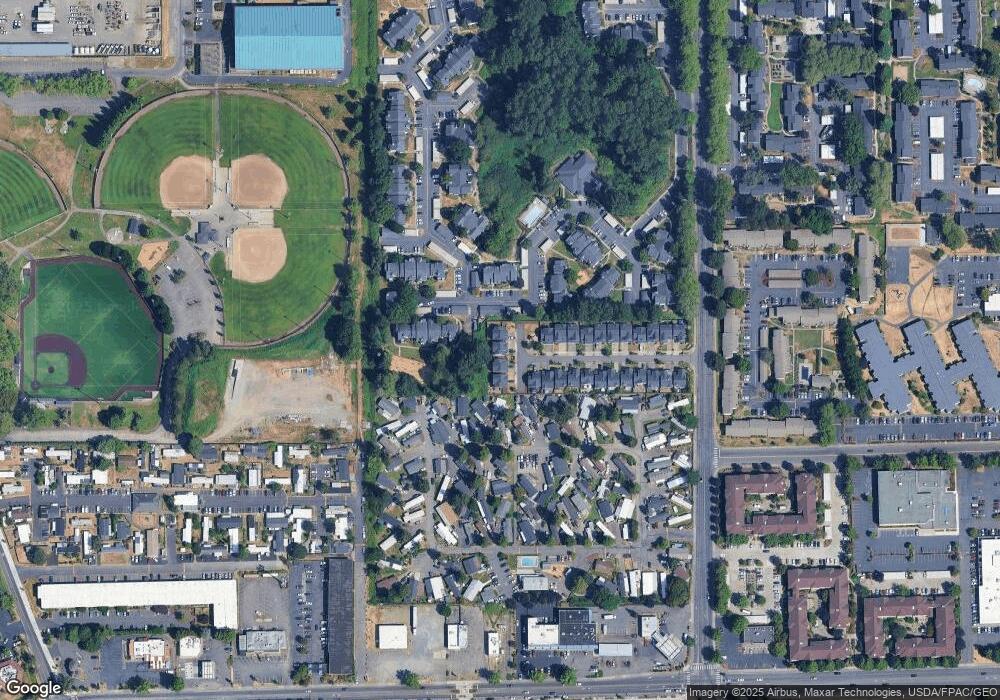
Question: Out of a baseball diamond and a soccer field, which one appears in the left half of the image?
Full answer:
Looking in the left half of the image, you will find a baseball diamond.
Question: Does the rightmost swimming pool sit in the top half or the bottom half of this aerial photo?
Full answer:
The rightmost swimming pool sits in the top half of the picture.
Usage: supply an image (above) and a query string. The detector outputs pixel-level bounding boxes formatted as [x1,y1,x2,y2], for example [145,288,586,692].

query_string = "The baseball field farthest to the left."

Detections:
[0,136,67,243]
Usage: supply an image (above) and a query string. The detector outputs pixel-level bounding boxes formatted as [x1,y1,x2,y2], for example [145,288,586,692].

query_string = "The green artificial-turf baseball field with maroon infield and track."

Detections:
[18,256,162,403]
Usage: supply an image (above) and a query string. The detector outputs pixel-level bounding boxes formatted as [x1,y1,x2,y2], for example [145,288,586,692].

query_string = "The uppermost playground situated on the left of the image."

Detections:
[139,241,169,269]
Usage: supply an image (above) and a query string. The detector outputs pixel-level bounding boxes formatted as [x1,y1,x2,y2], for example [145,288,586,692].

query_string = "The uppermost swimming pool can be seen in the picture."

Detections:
[963,73,986,96]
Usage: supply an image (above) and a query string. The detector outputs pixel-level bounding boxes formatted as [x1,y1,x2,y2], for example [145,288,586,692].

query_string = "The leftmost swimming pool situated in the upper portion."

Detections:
[519,197,549,227]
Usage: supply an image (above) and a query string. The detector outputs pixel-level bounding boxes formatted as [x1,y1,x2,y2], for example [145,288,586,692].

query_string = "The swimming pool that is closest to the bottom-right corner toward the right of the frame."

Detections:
[799,363,812,384]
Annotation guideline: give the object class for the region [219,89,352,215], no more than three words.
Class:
baseball field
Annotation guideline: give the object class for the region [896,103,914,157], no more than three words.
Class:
building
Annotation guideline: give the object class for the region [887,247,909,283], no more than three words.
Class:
basketball court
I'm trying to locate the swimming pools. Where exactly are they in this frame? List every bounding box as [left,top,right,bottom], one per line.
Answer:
[519,197,549,227]
[517,556,538,567]
[963,73,986,96]
[799,363,812,384]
